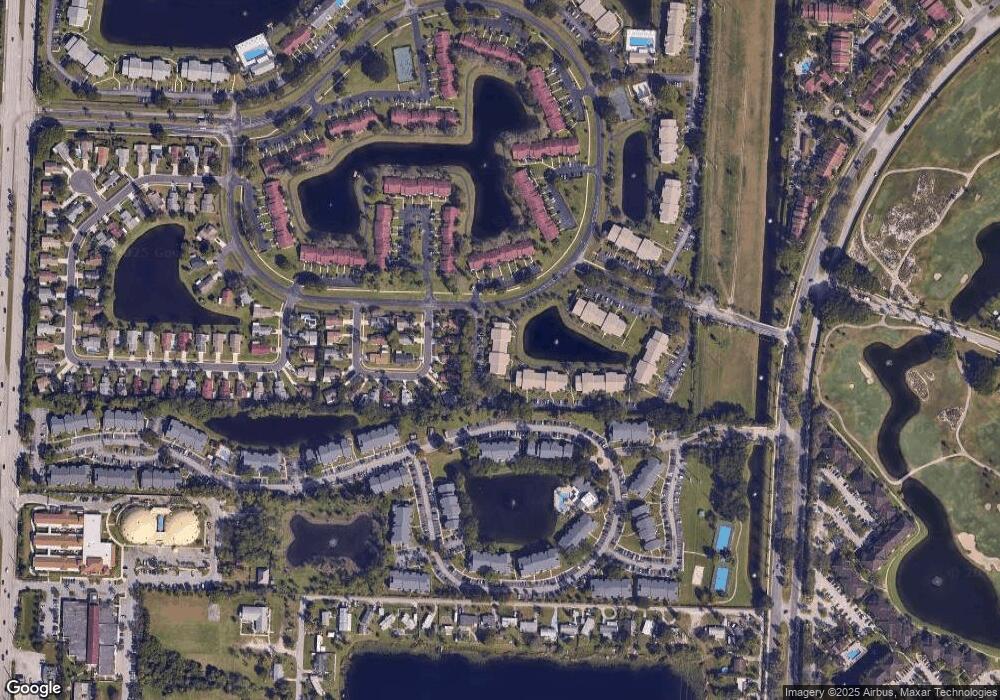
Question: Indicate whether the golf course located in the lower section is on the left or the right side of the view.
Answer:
right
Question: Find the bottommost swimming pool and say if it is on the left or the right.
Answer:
right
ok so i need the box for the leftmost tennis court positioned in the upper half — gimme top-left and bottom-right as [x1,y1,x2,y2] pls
[394,46,411,84]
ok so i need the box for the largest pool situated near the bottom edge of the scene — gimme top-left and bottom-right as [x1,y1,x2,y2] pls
[840,640,868,667]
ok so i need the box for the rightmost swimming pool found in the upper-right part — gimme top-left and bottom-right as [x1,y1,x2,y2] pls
[797,58,812,75]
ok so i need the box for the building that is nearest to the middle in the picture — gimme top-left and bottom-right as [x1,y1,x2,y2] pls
[488,323,512,376]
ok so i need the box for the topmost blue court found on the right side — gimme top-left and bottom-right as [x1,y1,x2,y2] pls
[713,521,734,555]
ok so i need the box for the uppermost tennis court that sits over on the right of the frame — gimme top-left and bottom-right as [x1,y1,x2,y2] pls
[605,86,635,122]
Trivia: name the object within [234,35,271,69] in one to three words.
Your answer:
swimming pool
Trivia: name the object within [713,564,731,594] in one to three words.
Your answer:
tennis court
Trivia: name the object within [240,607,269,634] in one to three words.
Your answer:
house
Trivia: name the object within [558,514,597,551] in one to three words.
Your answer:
building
